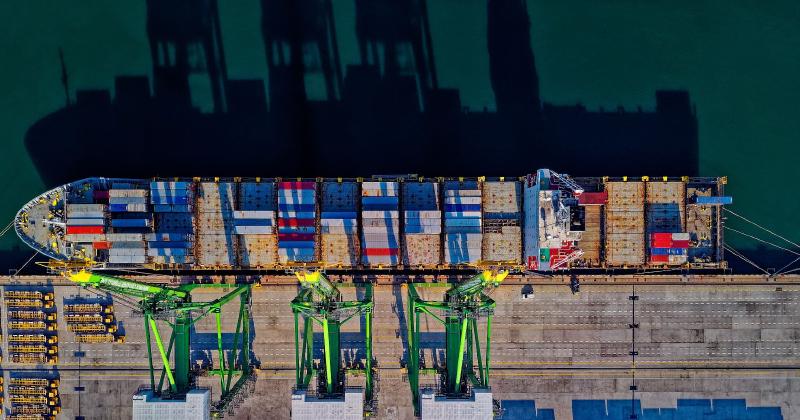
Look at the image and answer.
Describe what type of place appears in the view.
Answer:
port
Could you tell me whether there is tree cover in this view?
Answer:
No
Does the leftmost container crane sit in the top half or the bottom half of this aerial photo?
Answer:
bottom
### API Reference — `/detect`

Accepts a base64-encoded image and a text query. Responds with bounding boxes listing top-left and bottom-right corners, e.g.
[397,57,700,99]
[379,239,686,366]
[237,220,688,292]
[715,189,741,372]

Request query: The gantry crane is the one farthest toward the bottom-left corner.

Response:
[44,258,260,420]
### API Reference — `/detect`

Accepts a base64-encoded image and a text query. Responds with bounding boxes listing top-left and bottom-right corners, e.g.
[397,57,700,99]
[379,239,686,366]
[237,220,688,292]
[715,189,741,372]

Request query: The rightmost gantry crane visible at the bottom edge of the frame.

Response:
[395,258,531,420]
